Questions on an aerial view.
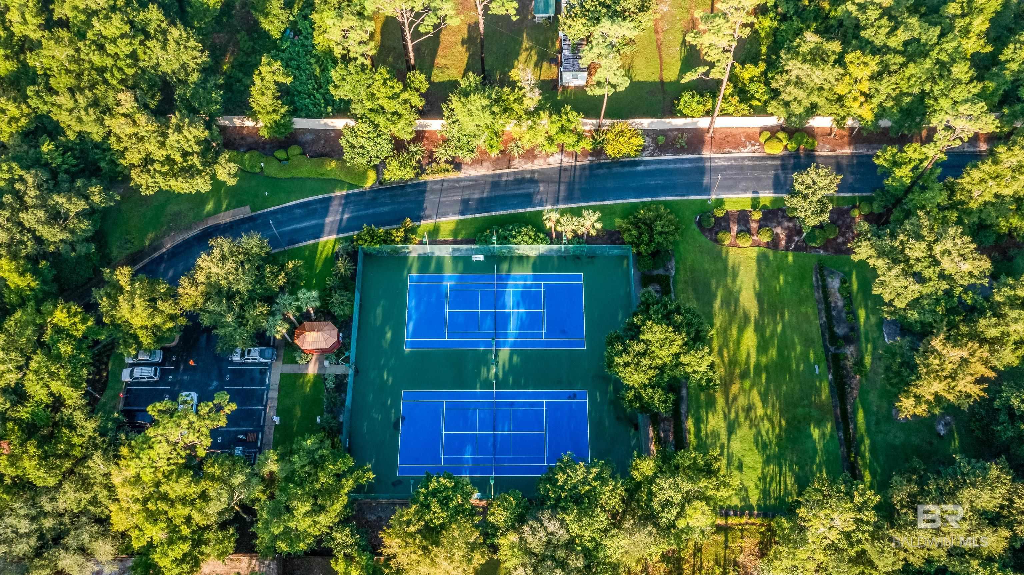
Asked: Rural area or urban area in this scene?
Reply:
rural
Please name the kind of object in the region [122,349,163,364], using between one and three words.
car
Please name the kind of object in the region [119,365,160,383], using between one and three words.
car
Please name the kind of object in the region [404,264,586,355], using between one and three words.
tennis court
